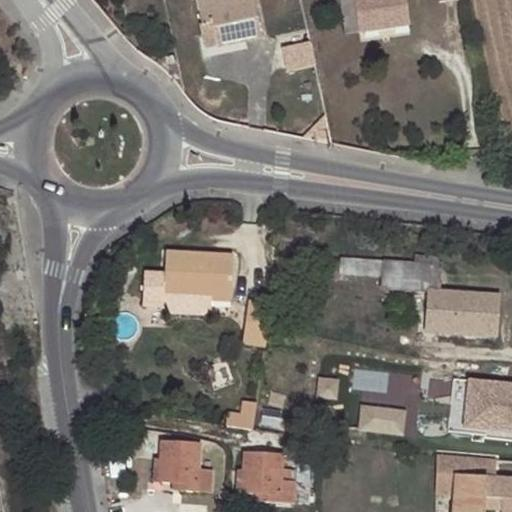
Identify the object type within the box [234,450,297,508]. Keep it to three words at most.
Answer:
house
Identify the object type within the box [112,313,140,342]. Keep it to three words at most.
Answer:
swimming pool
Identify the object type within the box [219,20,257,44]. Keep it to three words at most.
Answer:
solar array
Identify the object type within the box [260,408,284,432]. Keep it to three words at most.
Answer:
shed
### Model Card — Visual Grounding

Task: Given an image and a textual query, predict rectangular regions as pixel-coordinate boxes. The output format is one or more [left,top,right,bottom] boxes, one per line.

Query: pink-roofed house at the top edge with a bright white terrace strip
[342,0,414,44]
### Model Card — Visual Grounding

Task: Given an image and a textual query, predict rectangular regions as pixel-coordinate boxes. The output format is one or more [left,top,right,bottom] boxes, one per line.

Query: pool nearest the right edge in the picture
[352,370,389,393]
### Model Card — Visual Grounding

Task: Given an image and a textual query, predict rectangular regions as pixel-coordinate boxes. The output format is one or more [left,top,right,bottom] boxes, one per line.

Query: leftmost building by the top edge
[198,0,264,58]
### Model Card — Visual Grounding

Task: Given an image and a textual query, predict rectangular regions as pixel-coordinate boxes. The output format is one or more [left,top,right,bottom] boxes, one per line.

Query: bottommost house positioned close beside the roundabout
[140,249,234,316]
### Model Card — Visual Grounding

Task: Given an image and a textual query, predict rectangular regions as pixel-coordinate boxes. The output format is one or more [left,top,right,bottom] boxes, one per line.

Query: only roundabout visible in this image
[0,24,238,258]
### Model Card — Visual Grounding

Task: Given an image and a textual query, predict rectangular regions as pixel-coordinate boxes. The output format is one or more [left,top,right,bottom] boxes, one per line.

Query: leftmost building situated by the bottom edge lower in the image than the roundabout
[147,440,214,504]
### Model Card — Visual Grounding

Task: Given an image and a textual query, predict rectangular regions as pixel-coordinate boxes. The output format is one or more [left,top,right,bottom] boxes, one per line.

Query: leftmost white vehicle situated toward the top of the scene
[40,180,65,194]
